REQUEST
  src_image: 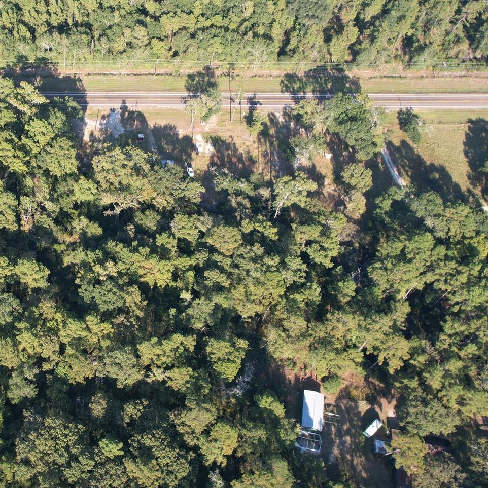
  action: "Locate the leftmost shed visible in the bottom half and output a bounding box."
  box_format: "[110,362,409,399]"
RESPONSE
[298,391,323,434]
